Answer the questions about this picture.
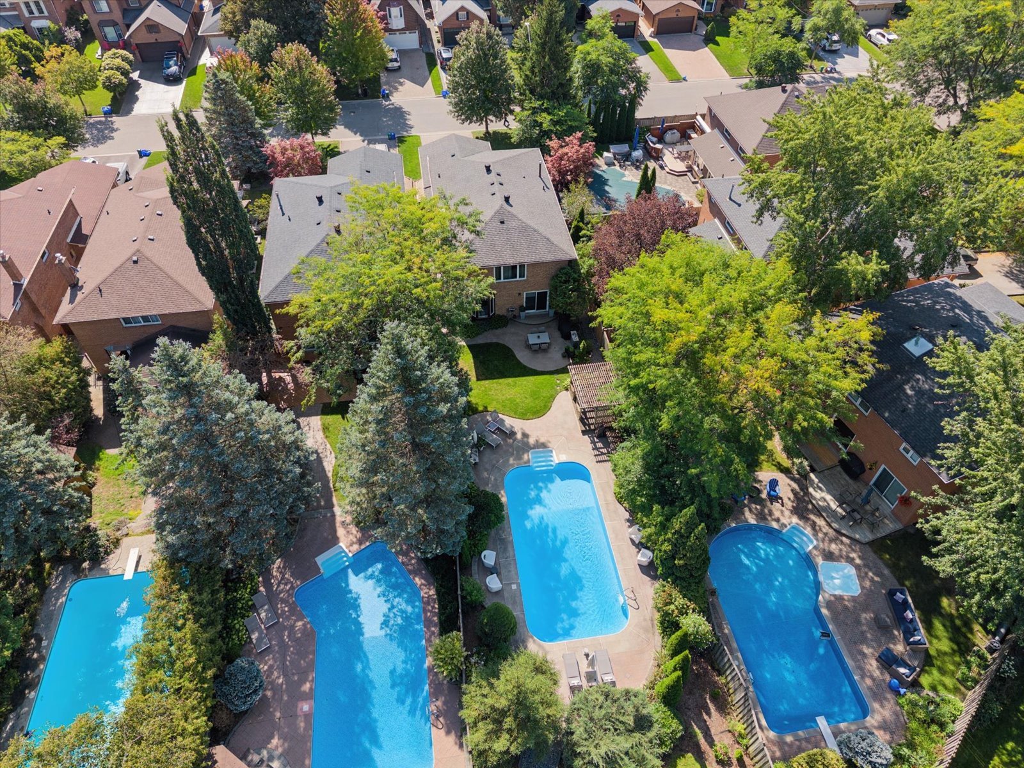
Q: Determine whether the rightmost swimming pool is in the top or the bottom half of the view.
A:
bottom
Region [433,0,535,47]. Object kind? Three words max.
house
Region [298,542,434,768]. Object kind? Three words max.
swimming pool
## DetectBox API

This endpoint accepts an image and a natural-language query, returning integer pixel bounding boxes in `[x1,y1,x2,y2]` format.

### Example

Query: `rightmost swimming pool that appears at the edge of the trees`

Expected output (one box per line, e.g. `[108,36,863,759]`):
[709,517,879,745]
